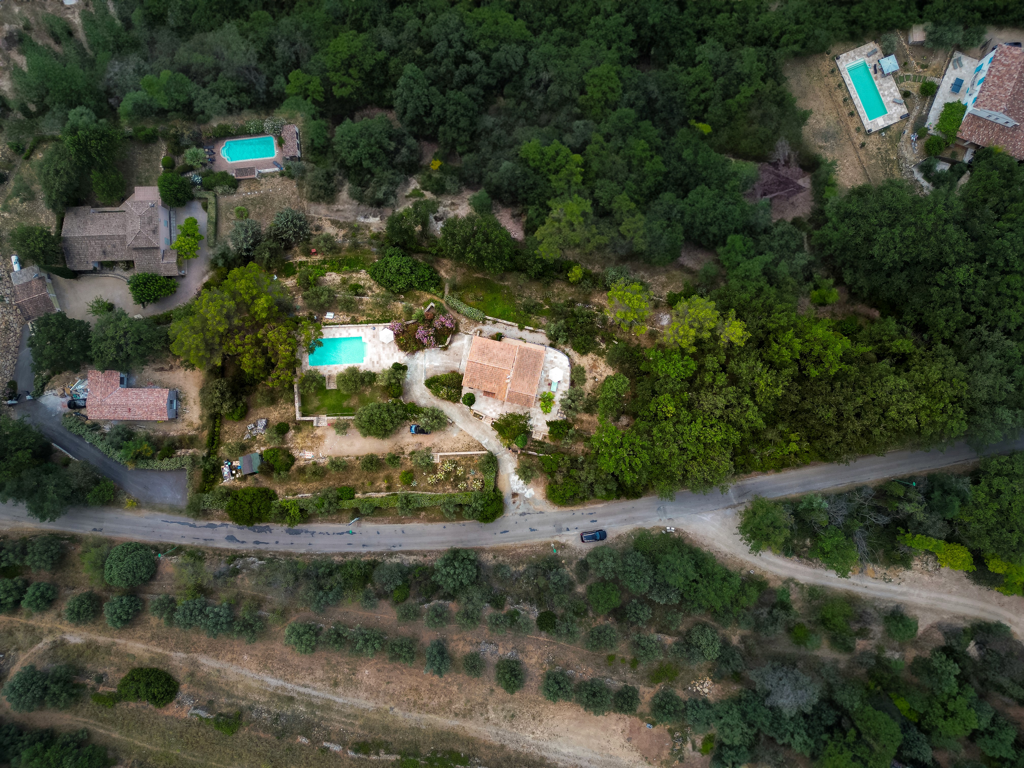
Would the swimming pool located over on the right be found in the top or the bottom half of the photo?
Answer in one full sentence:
The swimming pool located over on the right sits in the top half of the picture.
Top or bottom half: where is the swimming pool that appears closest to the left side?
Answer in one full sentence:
The top half of the photo is where the swimming pool that appears closest to the left side is.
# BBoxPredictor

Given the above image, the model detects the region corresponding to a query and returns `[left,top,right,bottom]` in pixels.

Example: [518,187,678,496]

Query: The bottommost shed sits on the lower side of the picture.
[239,453,264,475]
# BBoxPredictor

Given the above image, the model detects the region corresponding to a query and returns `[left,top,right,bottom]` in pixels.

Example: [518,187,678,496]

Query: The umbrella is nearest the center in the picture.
[549,367,563,382]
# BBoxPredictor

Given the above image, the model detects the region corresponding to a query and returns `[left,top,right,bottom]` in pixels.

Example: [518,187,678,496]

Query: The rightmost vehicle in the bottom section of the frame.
[580,529,607,542]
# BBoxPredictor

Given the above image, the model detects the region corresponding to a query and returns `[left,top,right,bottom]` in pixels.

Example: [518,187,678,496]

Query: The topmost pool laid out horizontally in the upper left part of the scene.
[218,134,277,164]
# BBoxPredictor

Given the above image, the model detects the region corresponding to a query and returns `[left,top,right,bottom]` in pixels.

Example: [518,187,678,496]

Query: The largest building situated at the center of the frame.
[461,335,546,408]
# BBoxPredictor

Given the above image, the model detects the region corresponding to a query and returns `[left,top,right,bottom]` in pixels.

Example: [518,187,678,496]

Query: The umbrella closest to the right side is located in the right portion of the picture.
[878,54,899,75]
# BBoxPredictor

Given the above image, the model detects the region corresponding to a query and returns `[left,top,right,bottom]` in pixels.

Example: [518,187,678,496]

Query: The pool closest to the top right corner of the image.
[845,57,889,122]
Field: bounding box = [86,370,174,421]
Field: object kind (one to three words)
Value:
house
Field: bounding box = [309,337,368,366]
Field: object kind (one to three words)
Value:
swimming pool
